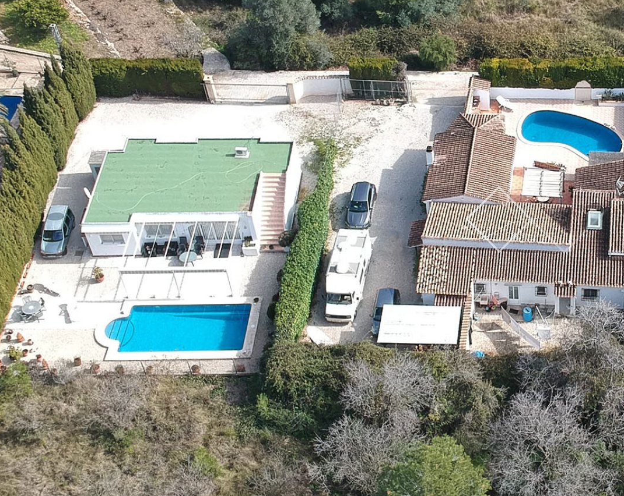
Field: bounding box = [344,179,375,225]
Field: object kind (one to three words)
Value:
car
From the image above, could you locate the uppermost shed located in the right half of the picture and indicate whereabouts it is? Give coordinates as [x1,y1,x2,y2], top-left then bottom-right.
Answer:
[470,75,492,108]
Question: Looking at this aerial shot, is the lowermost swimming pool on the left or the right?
left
